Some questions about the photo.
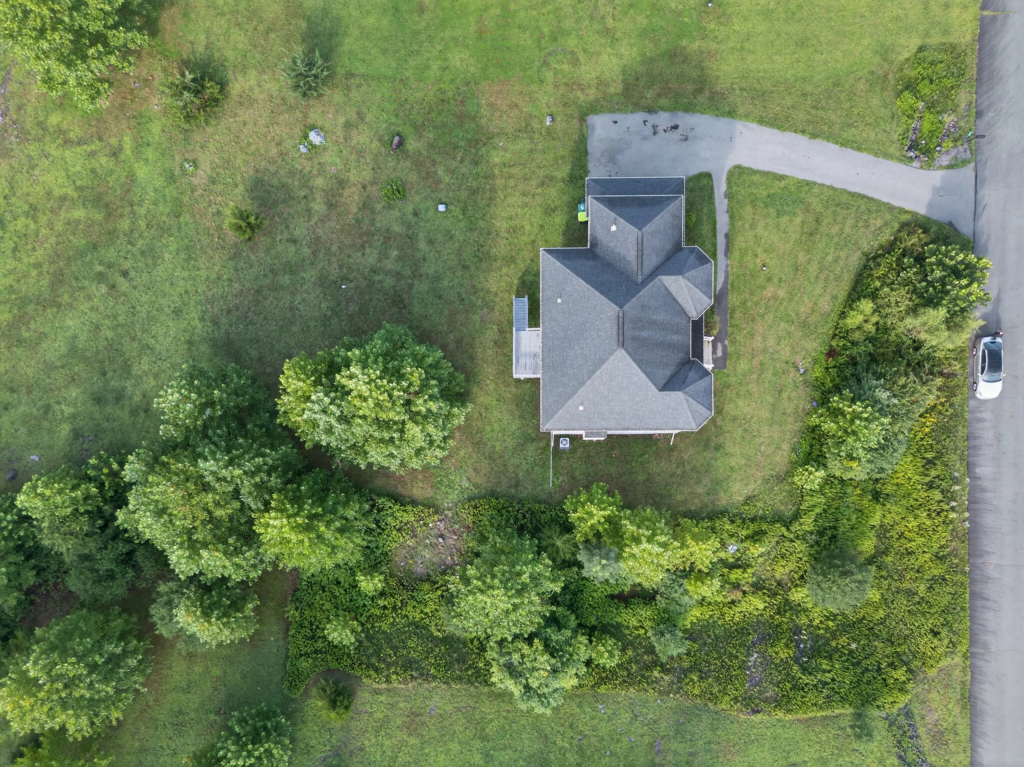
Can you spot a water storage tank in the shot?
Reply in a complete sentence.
No, I can't see a single water storage tank in this photo.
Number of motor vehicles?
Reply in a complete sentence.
The picture shows just 1 motor vehicle.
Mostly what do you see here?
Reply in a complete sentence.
The largest share of the image is taken up by grass.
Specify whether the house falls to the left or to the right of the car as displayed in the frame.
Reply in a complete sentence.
To the left of the car is where the house appears.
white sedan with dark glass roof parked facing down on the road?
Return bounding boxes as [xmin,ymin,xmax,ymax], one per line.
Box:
[971,336,1008,401]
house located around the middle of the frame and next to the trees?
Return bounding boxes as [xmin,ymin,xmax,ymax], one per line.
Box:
[513,175,716,446]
